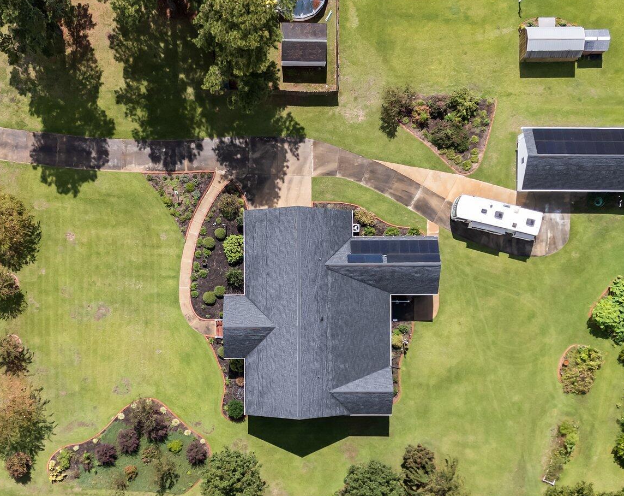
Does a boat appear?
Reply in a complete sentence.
No, I can't see a single boat in this photo.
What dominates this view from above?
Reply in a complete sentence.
The bulk of the photo consists of grass.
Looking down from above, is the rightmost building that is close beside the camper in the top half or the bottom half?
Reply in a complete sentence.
The rightmost building that is close beside the camper sits in the top half of the picture.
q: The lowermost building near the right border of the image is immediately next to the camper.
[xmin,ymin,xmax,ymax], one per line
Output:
[518,127,624,192]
